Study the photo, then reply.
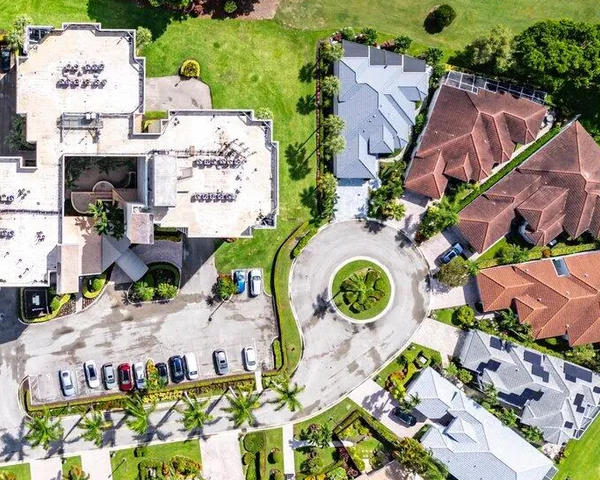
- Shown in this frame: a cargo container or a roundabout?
roundabout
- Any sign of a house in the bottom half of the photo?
Yes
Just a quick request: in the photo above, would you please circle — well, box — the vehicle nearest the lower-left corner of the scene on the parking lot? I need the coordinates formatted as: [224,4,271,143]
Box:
[61,368,73,395]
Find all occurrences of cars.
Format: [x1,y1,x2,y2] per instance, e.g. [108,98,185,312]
[438,241,465,262]
[248,268,260,296]
[0,45,11,72]
[83,359,98,387]
[133,360,147,387]
[243,344,257,371]
[170,353,185,381]
[118,362,132,390]
[388,404,416,425]
[155,357,169,384]
[234,269,245,294]
[61,368,73,395]
[103,361,115,389]
[214,347,229,375]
